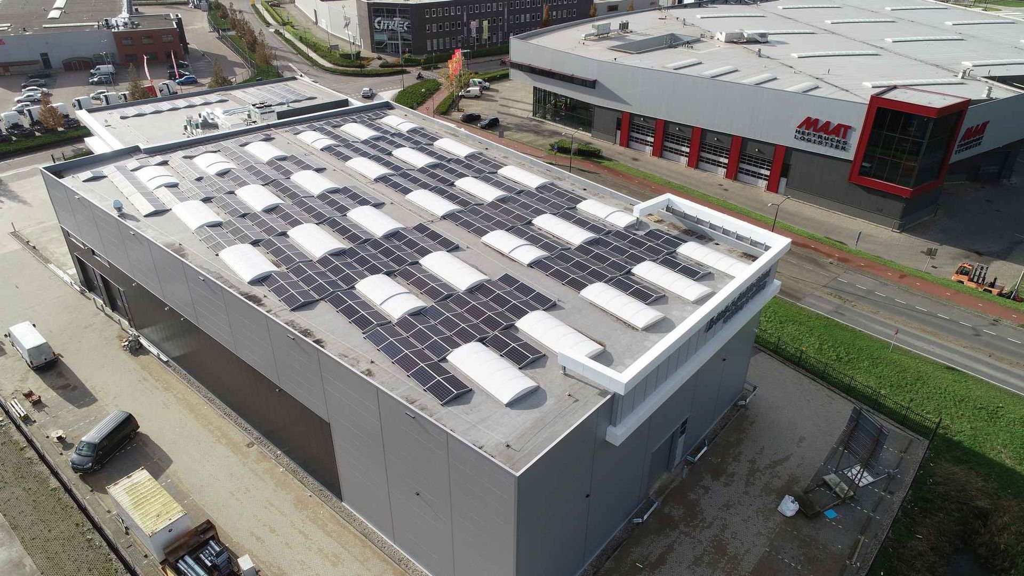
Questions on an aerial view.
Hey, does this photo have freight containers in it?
Yes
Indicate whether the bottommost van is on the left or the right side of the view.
left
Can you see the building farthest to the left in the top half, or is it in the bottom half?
top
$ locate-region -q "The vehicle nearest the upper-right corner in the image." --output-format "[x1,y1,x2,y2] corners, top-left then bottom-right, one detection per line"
[954,259,1008,295]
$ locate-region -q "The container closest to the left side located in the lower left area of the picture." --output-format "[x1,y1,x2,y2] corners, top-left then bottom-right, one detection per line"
[105,466,193,565]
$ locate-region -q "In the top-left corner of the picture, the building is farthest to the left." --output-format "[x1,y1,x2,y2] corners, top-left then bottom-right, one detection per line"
[0,0,121,80]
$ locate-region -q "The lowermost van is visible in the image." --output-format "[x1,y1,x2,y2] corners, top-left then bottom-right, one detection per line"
[71,406,143,472]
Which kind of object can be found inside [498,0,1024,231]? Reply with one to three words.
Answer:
building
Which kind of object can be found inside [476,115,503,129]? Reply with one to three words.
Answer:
car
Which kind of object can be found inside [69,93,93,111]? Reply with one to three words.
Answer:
vehicle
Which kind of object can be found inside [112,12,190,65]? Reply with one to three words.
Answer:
building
